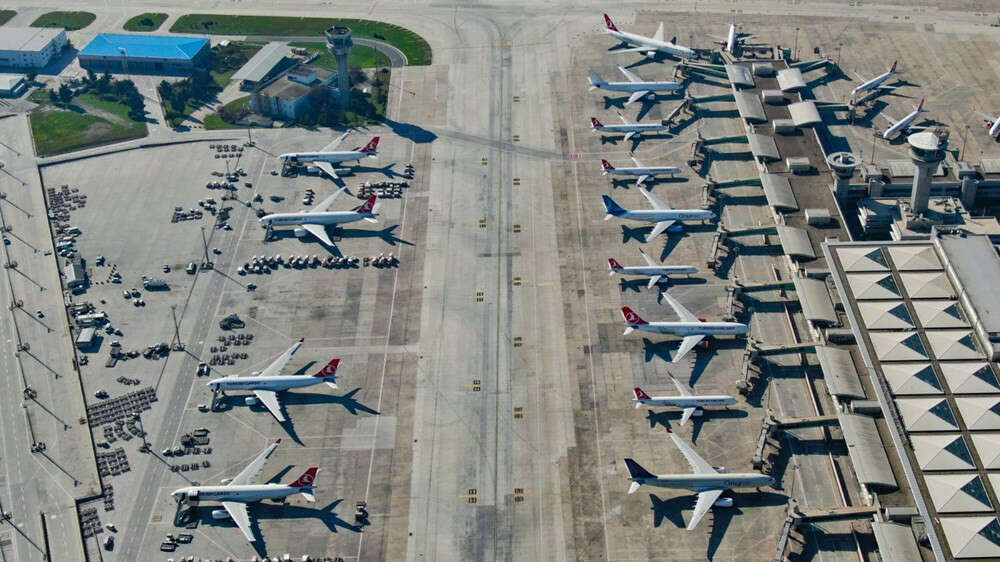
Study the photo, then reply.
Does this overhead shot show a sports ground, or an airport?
airport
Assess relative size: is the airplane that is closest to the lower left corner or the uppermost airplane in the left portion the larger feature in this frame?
the airplane that is closest to the lower left corner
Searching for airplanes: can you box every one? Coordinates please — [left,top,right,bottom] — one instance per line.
[637,372,737,424]
[604,181,714,239]
[599,13,699,60]
[257,186,375,243]
[706,20,756,55]
[590,61,683,103]
[623,286,748,361]
[277,127,378,177]
[610,246,698,286]
[594,110,667,140]
[628,426,773,526]
[603,151,680,183]
[851,63,900,97]
[208,335,338,418]
[172,437,317,539]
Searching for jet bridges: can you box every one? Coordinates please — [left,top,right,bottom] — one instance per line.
[661,95,734,133]
[772,506,865,562]
[749,416,836,481]
[686,137,747,175]
[722,281,794,321]
[735,342,812,400]
[809,100,864,135]
[700,179,761,221]
[788,58,832,85]
[706,227,776,277]
[741,45,782,61]
[670,58,725,87]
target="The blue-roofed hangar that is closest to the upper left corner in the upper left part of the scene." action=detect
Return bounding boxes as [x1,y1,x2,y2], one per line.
[79,34,210,70]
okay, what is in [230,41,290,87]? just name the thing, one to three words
shed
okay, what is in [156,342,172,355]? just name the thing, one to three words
vehicle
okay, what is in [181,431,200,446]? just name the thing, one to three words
work vehicle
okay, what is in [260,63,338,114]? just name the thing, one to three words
building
